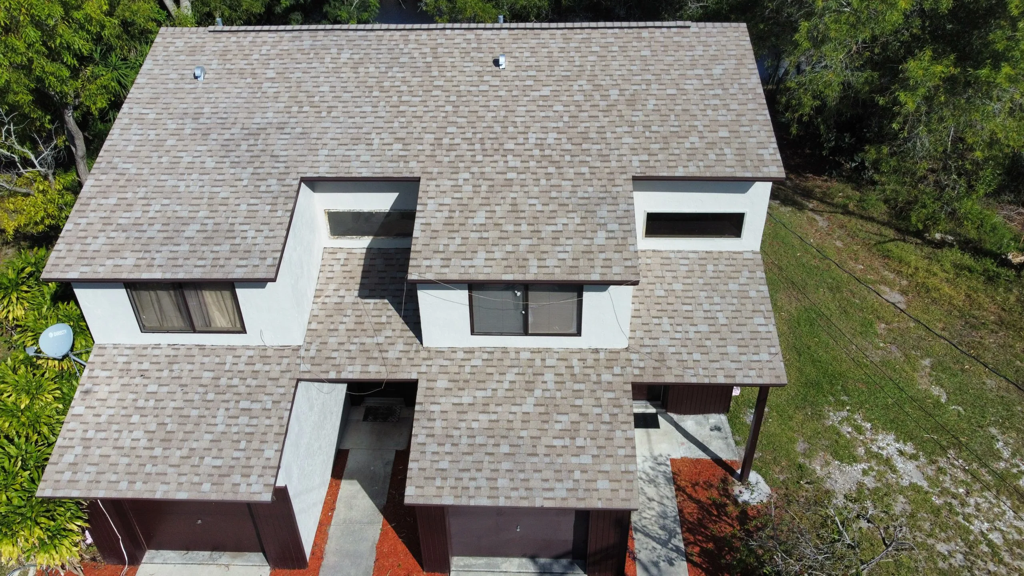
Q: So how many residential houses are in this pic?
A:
1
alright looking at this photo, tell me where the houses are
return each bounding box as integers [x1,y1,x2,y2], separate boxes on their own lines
[35,15,789,574]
